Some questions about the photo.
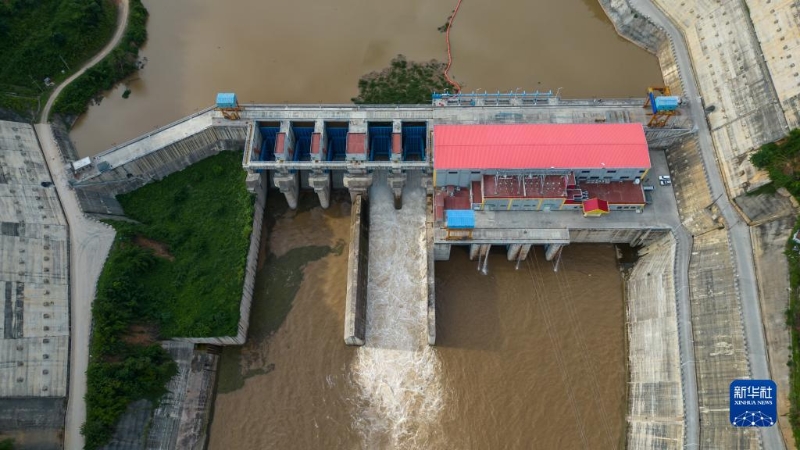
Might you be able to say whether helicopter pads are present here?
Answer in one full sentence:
No, the scene contains no helicopter pad.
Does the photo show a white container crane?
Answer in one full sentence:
No, the scene contains no white container crane.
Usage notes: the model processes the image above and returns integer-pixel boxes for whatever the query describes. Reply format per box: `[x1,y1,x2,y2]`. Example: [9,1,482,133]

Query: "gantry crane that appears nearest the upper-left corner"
[216,94,244,120]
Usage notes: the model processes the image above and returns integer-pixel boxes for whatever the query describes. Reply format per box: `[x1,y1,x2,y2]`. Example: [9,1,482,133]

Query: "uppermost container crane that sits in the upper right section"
[636,86,682,125]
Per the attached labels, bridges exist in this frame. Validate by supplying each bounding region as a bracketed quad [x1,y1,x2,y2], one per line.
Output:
[244,104,435,122]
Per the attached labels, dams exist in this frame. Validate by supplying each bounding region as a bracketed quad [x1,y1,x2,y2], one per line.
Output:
[73,89,700,209]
